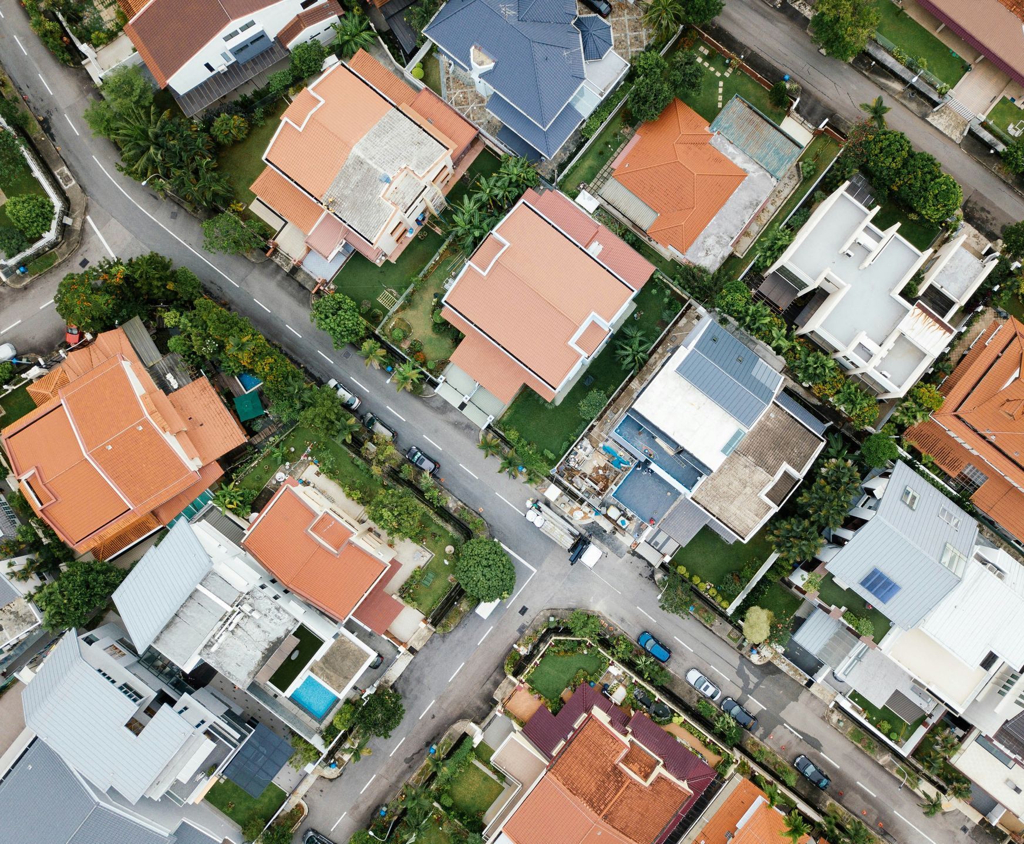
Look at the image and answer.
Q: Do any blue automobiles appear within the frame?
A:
Yes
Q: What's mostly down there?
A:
buildings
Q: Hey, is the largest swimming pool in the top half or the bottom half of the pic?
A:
bottom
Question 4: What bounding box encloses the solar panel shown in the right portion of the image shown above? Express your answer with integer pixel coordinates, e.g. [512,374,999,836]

[860,567,901,605]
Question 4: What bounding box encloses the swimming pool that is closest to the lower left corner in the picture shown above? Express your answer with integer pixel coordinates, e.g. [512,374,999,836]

[287,675,344,723]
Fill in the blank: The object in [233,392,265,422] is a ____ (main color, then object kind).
green umbrella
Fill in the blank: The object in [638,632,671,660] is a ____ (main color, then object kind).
blue car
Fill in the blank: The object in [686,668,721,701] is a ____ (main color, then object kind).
white car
